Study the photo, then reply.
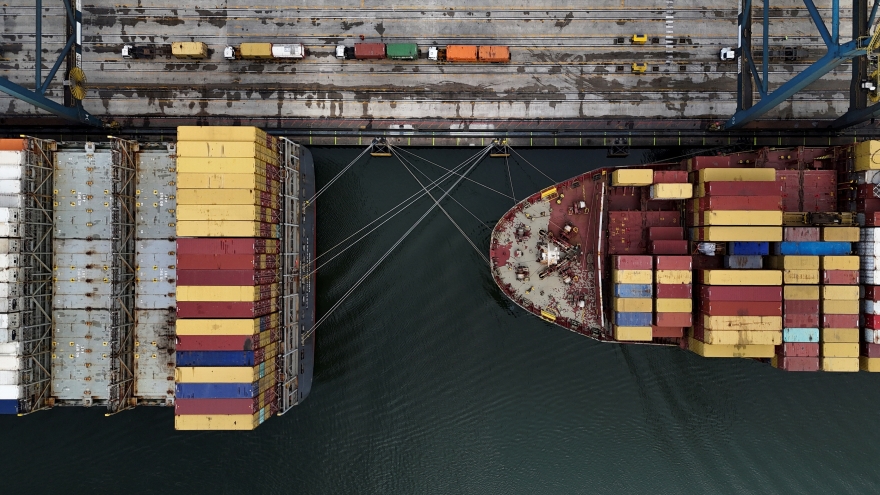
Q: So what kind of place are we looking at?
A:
port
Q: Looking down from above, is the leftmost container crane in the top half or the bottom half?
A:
top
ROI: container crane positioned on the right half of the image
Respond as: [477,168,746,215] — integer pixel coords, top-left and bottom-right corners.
[697,0,880,132]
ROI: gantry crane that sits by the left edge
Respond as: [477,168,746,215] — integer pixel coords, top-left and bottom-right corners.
[0,0,130,132]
